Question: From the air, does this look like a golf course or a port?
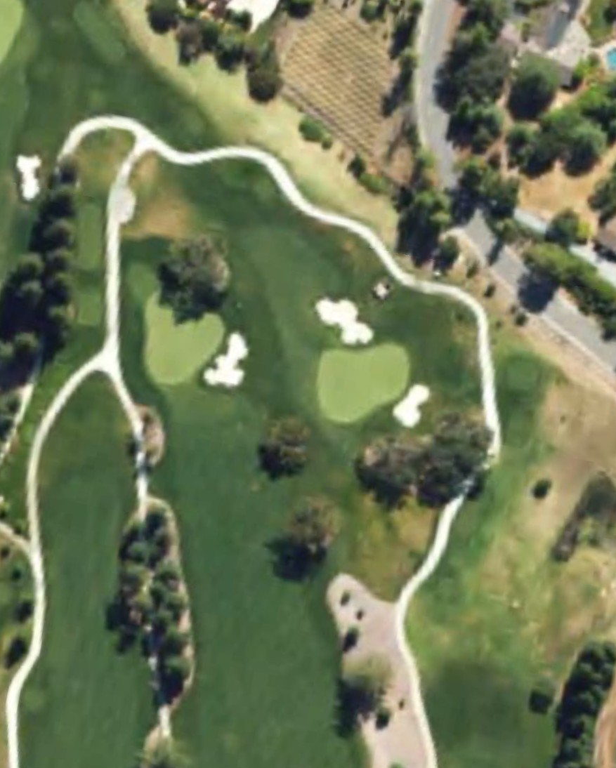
golf course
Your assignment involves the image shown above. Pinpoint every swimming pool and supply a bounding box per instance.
[602,41,616,75]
